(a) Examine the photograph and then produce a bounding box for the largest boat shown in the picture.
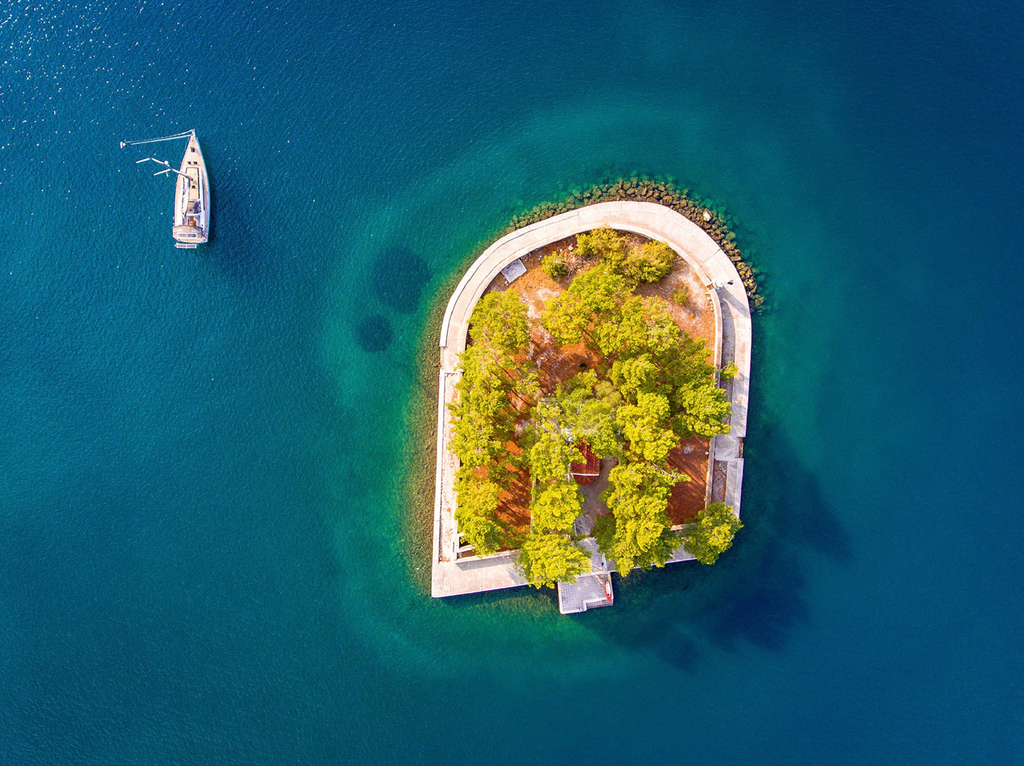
[118,129,210,248]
